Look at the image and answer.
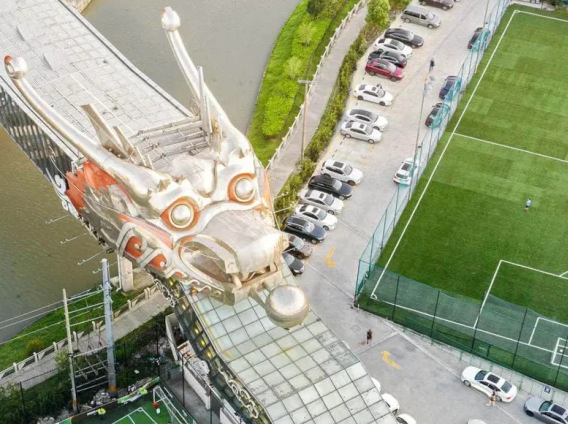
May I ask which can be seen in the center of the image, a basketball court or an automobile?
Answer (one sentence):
The feature located in the center of the image is an automobile.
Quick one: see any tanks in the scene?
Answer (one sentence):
No, this view has no tank in it.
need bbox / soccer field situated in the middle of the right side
[356,3,568,391]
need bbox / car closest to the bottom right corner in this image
[523,399,568,424]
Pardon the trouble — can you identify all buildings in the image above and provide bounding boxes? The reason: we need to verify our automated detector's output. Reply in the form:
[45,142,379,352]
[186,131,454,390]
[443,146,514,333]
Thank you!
[0,0,192,320]
[154,259,407,424]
